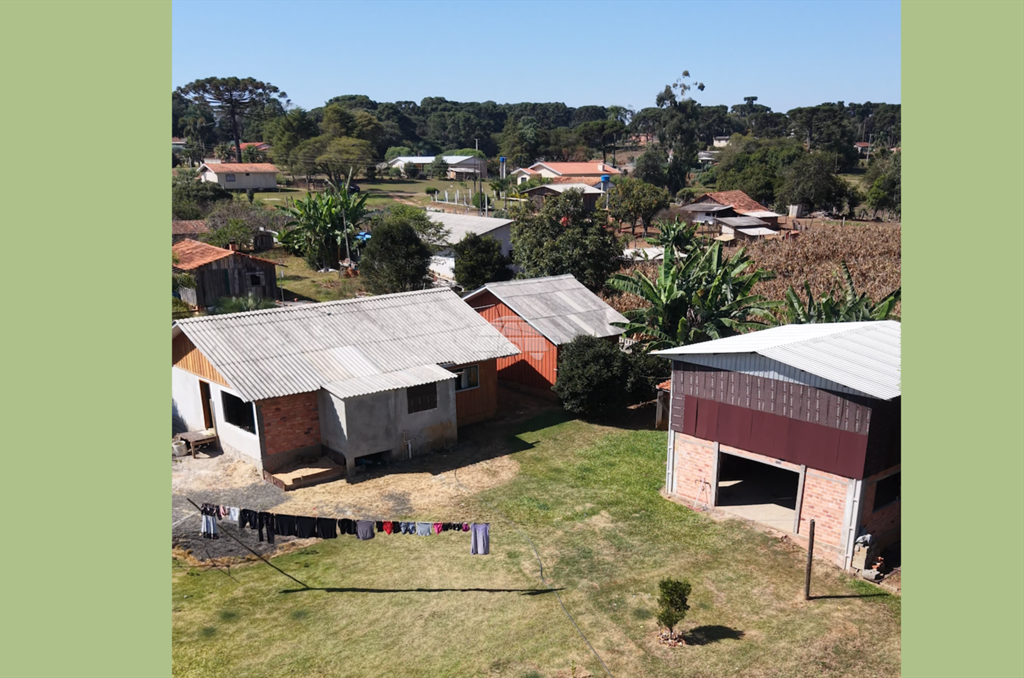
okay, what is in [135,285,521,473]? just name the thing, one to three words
house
